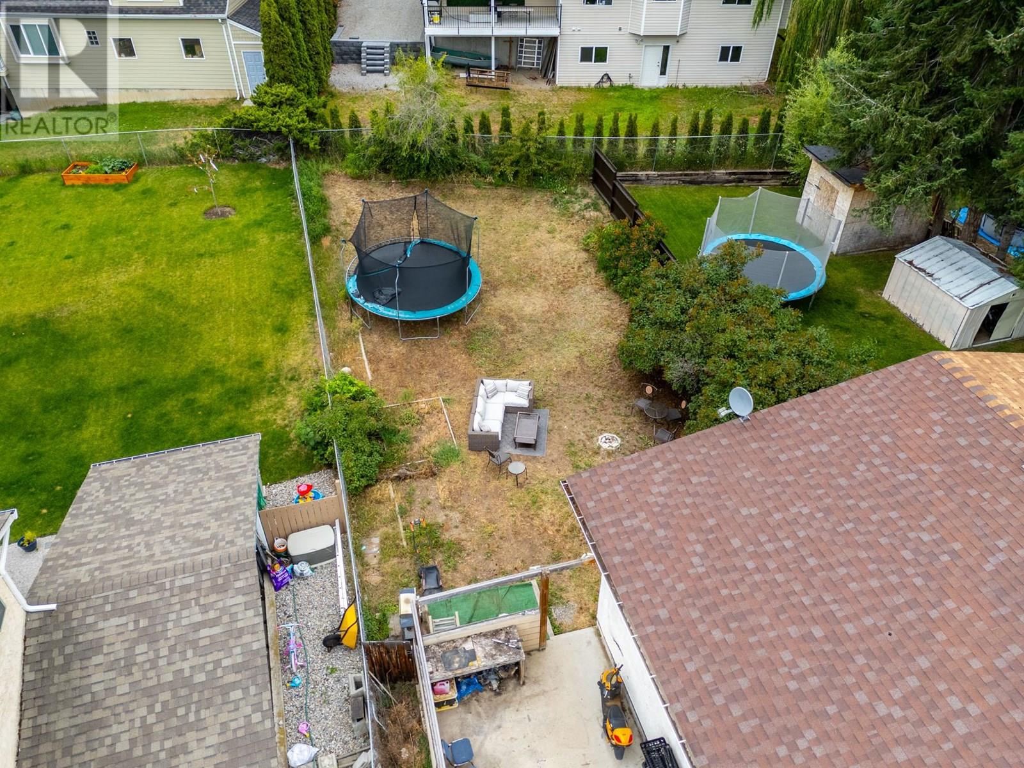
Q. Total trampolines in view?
2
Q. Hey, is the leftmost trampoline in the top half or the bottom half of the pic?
top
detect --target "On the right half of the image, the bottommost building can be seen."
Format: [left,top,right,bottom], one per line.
[560,335,1024,768]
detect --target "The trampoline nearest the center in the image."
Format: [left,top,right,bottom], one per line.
[334,186,485,344]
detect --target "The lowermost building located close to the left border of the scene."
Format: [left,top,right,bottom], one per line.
[0,431,284,768]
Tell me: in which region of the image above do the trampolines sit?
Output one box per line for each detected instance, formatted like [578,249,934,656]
[334,186,485,344]
[705,187,840,316]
